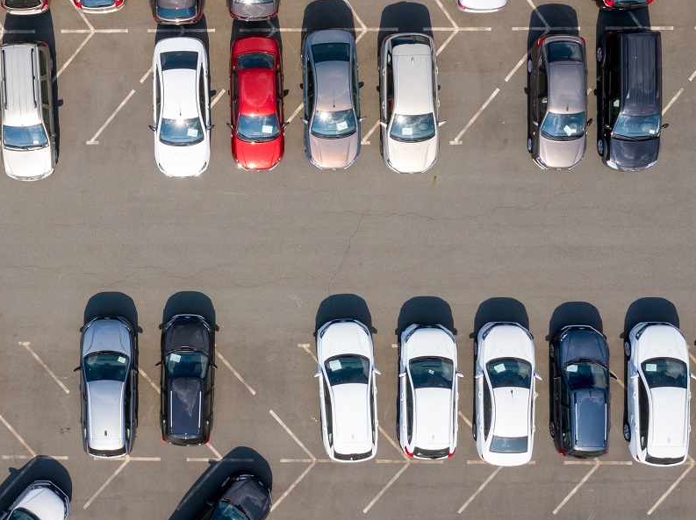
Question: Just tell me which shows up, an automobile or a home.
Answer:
automobile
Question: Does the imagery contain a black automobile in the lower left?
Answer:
Yes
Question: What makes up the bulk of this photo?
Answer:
paved ground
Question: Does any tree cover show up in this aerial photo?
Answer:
No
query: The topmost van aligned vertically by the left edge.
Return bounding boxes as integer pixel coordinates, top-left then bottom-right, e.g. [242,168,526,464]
[0,42,59,181]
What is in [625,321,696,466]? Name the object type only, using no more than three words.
car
